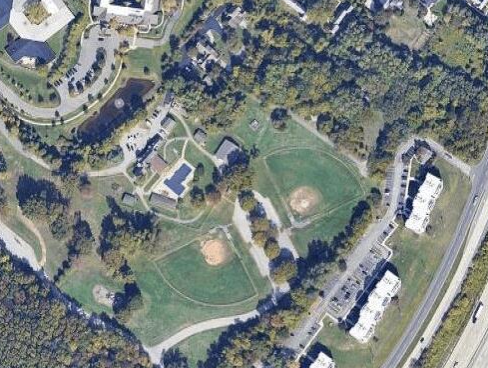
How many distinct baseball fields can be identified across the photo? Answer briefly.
2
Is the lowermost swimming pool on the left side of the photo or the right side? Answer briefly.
left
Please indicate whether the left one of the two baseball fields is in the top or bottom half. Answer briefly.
bottom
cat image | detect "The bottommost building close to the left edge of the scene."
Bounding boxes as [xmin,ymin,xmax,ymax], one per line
[6,38,55,63]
